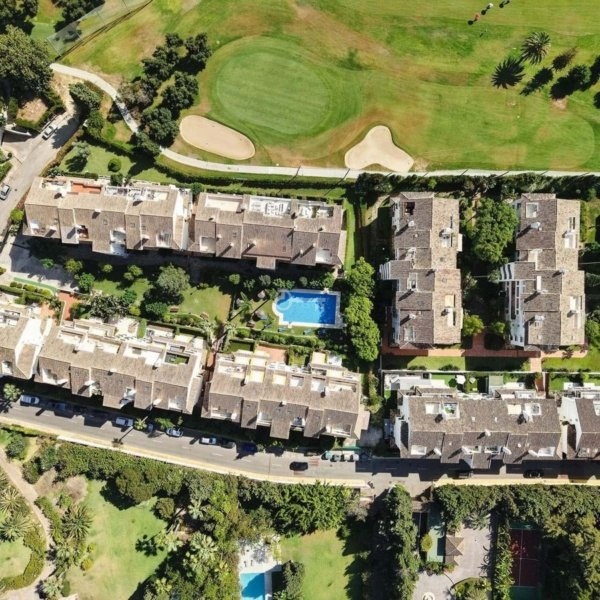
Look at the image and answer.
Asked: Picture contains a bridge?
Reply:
No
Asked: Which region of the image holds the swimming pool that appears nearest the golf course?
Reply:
center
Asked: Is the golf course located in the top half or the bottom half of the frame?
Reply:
top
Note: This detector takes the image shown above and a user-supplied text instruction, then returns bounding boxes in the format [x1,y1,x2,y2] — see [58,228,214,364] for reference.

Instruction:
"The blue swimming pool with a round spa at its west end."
[274,291,338,329]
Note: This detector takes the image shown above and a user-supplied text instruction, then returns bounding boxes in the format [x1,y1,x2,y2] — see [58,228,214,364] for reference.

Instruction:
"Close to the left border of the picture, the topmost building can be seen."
[23,177,194,259]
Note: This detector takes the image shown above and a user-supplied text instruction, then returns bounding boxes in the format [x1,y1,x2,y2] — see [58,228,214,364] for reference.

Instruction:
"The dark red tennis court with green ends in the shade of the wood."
[506,520,547,600]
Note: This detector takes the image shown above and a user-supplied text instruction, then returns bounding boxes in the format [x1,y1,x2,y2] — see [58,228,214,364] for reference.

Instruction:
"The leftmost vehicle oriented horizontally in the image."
[18,394,40,406]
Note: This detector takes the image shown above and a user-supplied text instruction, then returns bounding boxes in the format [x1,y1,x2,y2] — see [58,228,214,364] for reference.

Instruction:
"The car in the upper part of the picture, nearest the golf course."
[40,120,59,139]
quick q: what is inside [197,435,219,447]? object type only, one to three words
vehicle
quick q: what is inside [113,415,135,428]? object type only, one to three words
vehicle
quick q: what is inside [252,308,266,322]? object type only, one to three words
umbrella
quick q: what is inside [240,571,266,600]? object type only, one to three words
swimming pool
